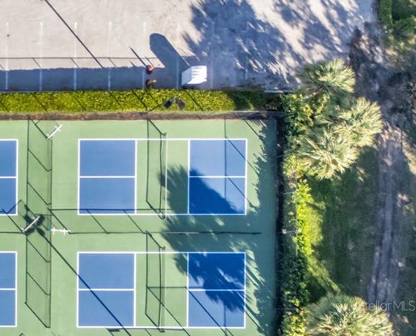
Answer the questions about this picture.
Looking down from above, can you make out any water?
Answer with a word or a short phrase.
No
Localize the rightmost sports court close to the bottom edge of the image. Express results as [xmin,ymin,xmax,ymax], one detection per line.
[189,254,245,327]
